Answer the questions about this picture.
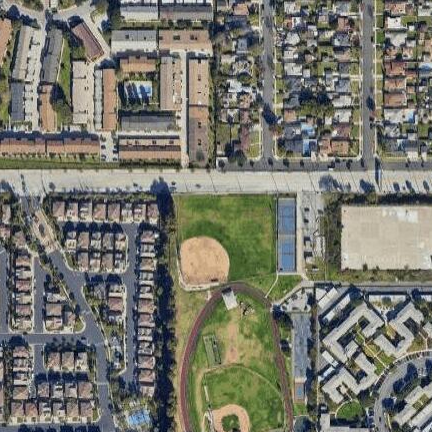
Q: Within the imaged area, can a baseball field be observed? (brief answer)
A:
Yes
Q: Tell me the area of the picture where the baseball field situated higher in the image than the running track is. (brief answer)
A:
center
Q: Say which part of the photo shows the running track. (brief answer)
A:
bottom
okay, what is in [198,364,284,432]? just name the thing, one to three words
baseball field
